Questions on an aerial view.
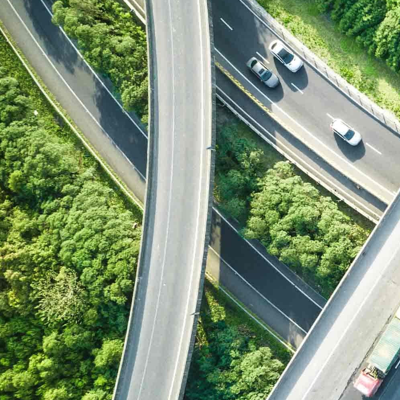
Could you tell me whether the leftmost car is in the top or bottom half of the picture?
top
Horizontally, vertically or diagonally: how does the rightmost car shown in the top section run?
diagonally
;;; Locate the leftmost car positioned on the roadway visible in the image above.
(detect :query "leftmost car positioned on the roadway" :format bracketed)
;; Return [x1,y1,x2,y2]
[245,56,279,90]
